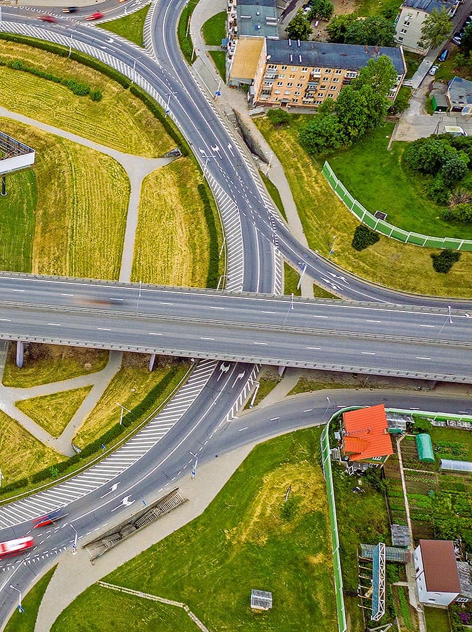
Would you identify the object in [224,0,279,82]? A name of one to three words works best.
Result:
building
